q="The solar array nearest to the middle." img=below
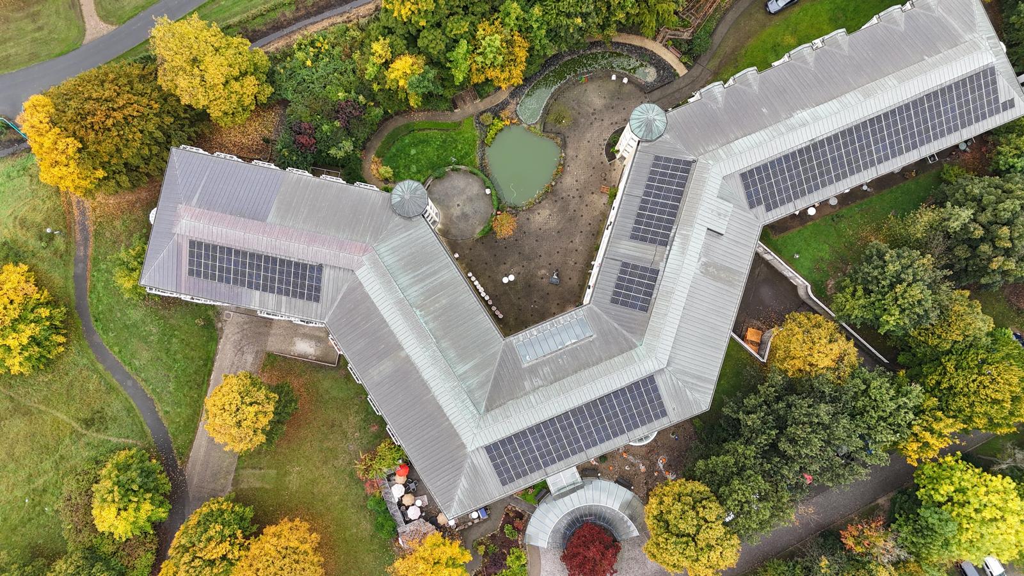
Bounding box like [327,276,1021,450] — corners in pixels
[611,262,659,312]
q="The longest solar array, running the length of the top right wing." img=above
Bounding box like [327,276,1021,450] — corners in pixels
[740,66,1015,214]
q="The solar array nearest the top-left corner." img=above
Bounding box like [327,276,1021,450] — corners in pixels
[188,240,322,302]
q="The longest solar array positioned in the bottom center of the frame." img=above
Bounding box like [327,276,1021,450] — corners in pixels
[486,375,667,486]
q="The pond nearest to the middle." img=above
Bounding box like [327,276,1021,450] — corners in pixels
[488,124,561,205]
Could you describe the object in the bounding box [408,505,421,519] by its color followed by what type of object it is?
white umbrella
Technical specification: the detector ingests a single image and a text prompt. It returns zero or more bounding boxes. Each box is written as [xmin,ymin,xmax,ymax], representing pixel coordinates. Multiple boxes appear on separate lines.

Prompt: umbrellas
[436,512,448,524]
[395,474,407,483]
[408,505,421,519]
[395,463,410,476]
[392,482,406,497]
[402,492,416,505]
